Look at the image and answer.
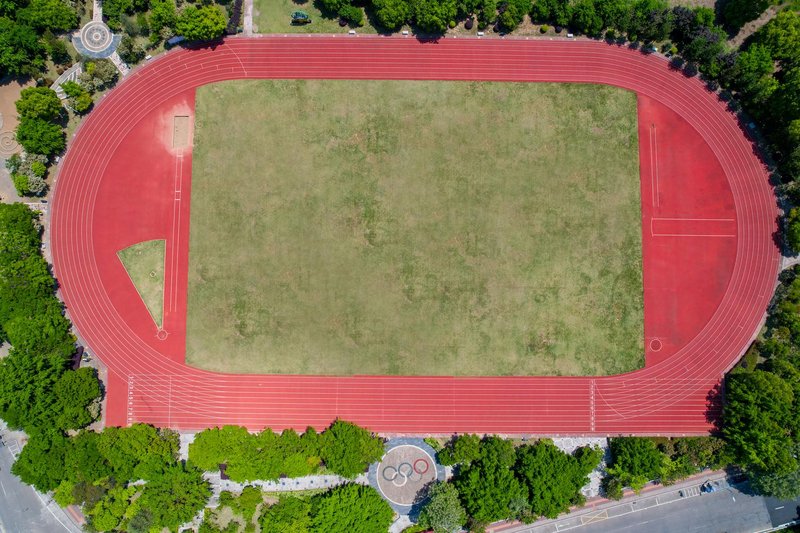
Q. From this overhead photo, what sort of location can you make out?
sports ground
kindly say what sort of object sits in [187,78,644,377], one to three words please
sports field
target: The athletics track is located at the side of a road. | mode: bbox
[49,36,780,434]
